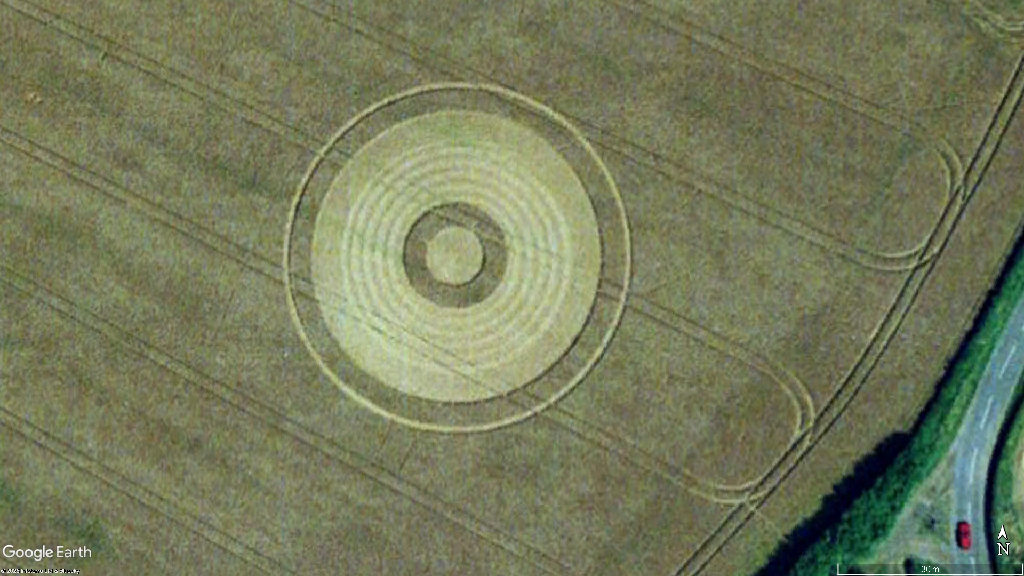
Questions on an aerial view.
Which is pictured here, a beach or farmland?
farmland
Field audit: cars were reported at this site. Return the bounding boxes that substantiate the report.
[960,524,973,551]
